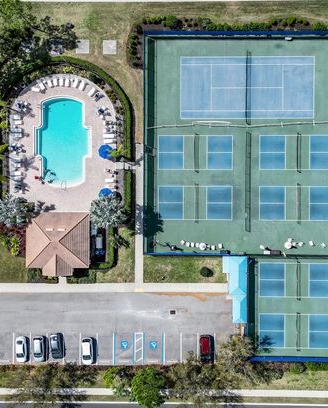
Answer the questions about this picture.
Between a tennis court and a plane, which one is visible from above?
tennis court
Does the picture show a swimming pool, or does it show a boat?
swimming pool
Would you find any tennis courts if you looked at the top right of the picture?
Yes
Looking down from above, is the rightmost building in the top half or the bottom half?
bottom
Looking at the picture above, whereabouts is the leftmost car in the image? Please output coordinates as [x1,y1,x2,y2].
[12,337,26,364]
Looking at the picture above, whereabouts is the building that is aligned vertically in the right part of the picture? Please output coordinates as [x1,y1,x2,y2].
[222,256,247,326]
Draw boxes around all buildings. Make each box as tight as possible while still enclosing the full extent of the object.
[25,212,90,277]
[222,256,247,326]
